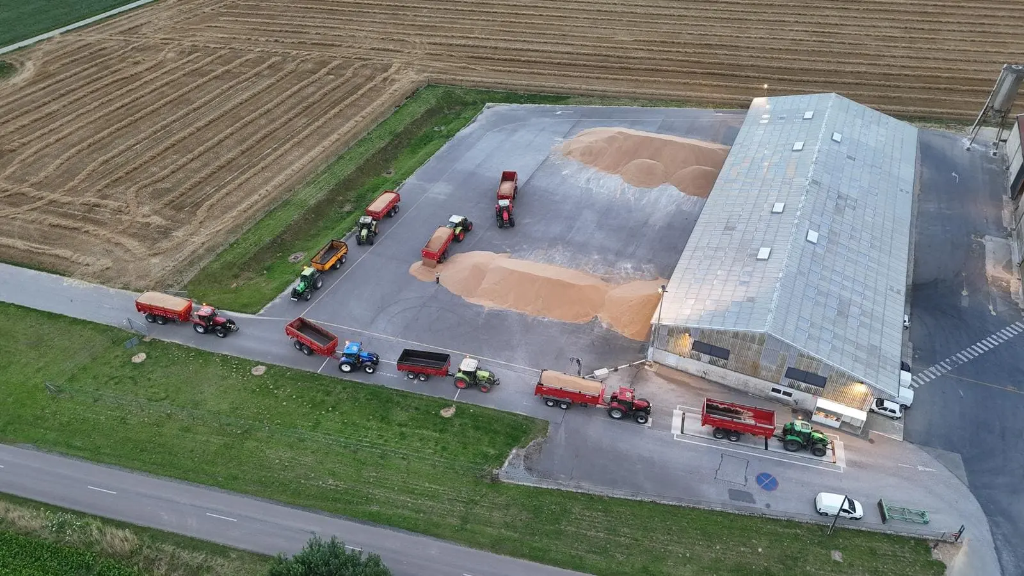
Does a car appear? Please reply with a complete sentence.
Yes, this view includes a car.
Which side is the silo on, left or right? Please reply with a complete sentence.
The silo sits on the right side.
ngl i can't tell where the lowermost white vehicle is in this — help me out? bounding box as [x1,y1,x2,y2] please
[815,495,863,523]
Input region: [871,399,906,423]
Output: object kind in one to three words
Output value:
car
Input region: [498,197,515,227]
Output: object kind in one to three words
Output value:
work vehicle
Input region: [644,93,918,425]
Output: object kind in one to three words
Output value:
building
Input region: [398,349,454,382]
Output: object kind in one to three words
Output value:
trailer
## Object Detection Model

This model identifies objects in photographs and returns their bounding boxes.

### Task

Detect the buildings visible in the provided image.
[1003,110,1024,367]
[644,93,918,425]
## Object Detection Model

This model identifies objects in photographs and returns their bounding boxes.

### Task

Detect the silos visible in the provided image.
[968,60,1024,152]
